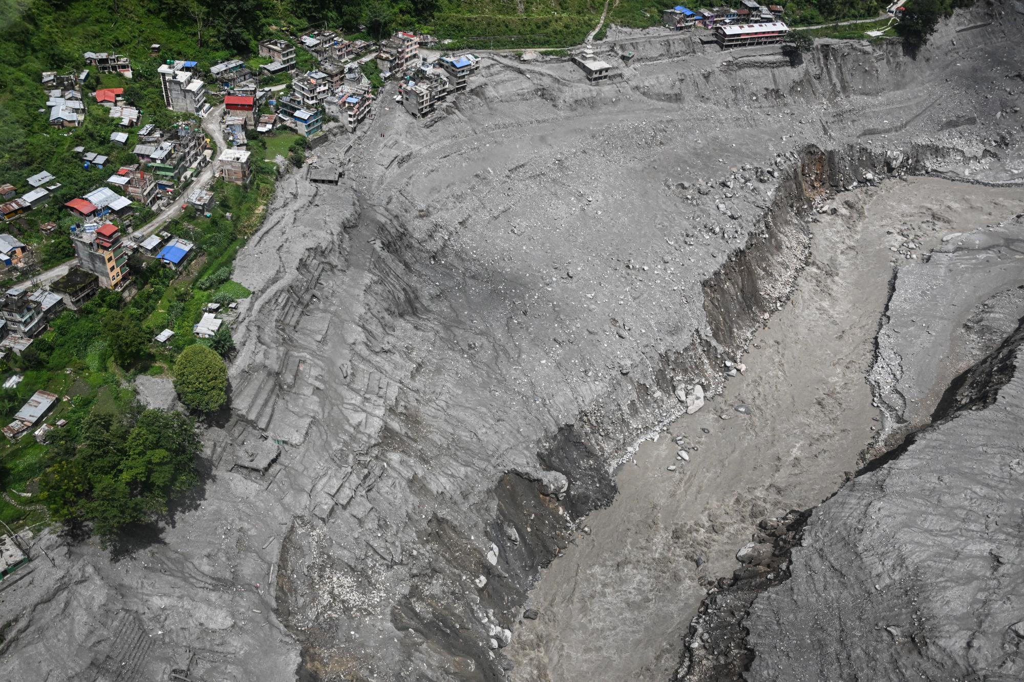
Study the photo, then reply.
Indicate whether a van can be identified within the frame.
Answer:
No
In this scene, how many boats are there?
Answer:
none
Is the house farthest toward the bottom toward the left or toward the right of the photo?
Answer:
left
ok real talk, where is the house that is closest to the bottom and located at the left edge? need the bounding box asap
[0,540,29,591]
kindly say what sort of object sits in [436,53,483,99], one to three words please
house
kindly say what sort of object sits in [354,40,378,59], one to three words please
house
